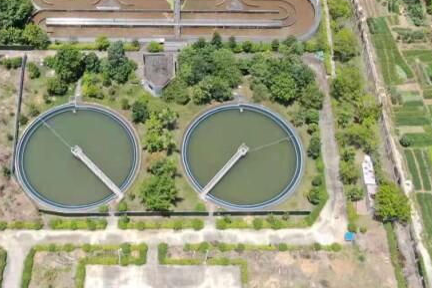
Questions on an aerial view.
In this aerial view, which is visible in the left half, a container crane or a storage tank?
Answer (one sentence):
There is a storage tank in the left half.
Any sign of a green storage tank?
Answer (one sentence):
Yes, there's a green storage tank here.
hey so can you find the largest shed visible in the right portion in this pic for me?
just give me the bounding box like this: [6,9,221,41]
[358,154,377,206]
